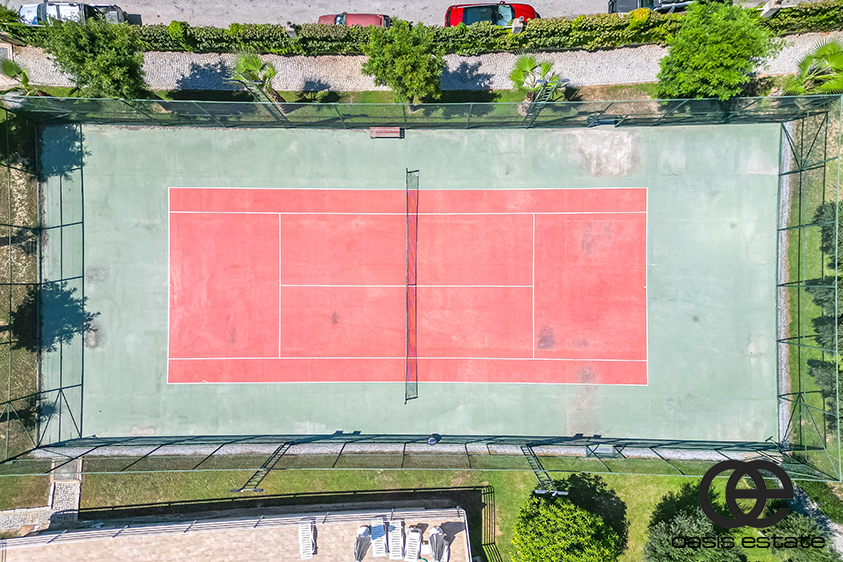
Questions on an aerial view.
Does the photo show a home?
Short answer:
No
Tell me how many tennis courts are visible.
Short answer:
1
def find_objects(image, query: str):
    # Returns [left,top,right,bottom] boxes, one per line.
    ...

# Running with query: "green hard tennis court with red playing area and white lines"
[37,123,781,452]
